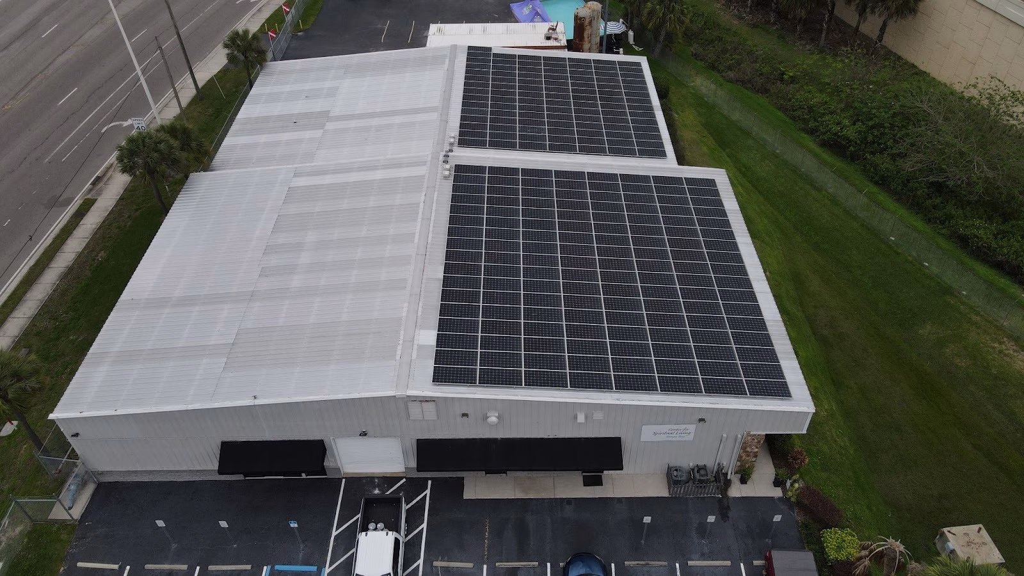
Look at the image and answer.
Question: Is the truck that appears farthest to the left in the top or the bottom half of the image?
bottom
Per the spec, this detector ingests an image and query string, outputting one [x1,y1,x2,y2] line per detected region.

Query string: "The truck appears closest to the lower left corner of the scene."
[350,498,407,576]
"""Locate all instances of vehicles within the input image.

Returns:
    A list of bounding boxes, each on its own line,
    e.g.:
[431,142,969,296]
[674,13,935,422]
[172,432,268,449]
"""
[561,553,611,576]
[768,546,826,576]
[350,498,407,576]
